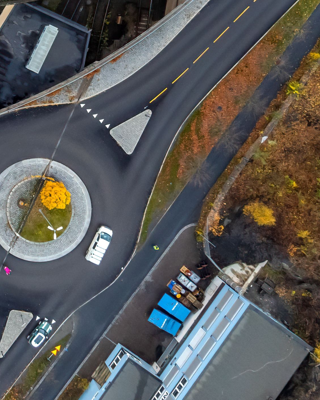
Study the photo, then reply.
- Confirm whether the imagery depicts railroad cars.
No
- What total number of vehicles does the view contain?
2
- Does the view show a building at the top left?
Yes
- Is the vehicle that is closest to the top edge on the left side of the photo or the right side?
left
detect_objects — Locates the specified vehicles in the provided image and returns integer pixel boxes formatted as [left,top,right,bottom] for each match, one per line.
[87,226,114,266]
[30,321,53,350]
